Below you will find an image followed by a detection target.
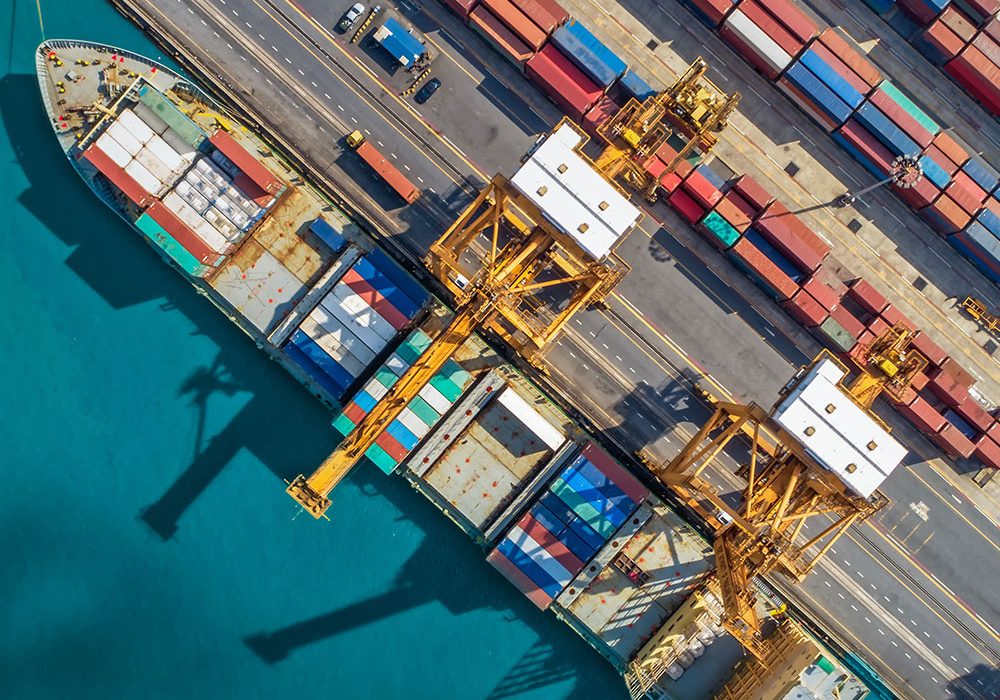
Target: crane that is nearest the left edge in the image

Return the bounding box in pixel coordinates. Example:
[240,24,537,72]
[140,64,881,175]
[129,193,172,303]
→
[287,88,678,520]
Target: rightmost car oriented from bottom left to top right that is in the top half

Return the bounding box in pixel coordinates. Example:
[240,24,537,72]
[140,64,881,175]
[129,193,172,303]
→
[414,77,440,103]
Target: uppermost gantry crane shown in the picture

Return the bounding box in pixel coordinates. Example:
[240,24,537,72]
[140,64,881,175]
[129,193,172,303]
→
[621,56,752,206]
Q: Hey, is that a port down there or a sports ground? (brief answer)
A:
port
